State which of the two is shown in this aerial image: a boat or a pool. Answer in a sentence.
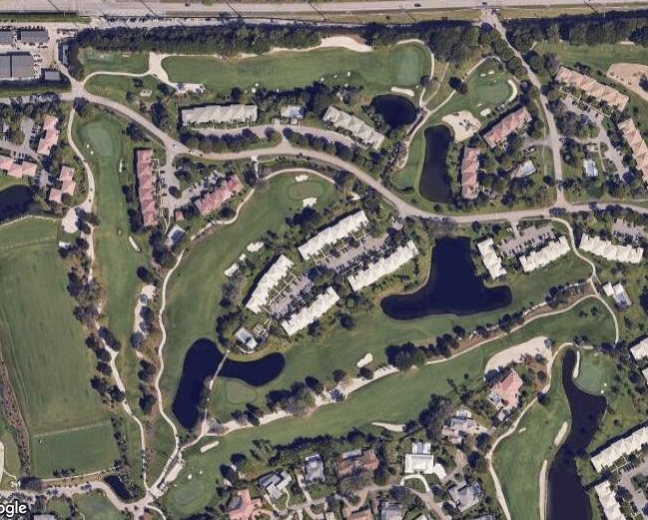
There is a pool in the scene.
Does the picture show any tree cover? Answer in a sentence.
Yes, there's tree cover in this view.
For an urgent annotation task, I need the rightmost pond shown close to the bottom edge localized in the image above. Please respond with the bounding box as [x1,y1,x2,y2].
[547,349,607,520]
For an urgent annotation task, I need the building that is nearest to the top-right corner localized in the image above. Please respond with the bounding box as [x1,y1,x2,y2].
[557,67,628,113]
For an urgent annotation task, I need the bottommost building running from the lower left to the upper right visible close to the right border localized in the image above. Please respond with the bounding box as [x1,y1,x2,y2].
[592,428,648,472]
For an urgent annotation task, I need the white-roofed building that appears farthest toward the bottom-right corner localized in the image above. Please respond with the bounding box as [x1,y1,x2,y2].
[595,482,627,520]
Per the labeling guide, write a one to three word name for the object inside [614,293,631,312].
swimming pool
